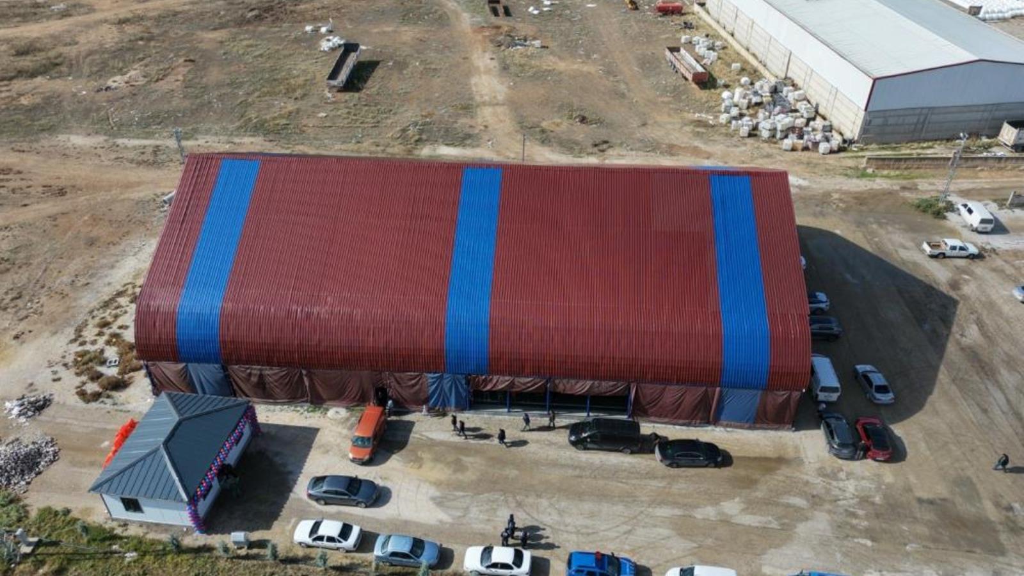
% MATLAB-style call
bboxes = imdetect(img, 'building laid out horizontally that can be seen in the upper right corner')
[699,0,1024,142]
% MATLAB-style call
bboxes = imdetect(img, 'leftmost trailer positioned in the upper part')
[326,43,361,92]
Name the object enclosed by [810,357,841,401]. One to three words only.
van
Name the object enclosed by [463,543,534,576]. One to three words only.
car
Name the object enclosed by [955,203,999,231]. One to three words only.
vehicle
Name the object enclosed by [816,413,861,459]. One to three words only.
car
